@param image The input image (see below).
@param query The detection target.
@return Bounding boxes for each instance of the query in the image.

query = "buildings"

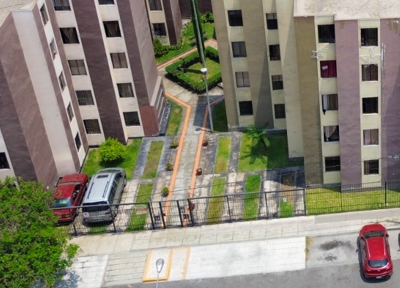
[212,0,400,192]
[0,0,184,215]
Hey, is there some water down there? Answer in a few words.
No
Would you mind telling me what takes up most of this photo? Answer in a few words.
buildings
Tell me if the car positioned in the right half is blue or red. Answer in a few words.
red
